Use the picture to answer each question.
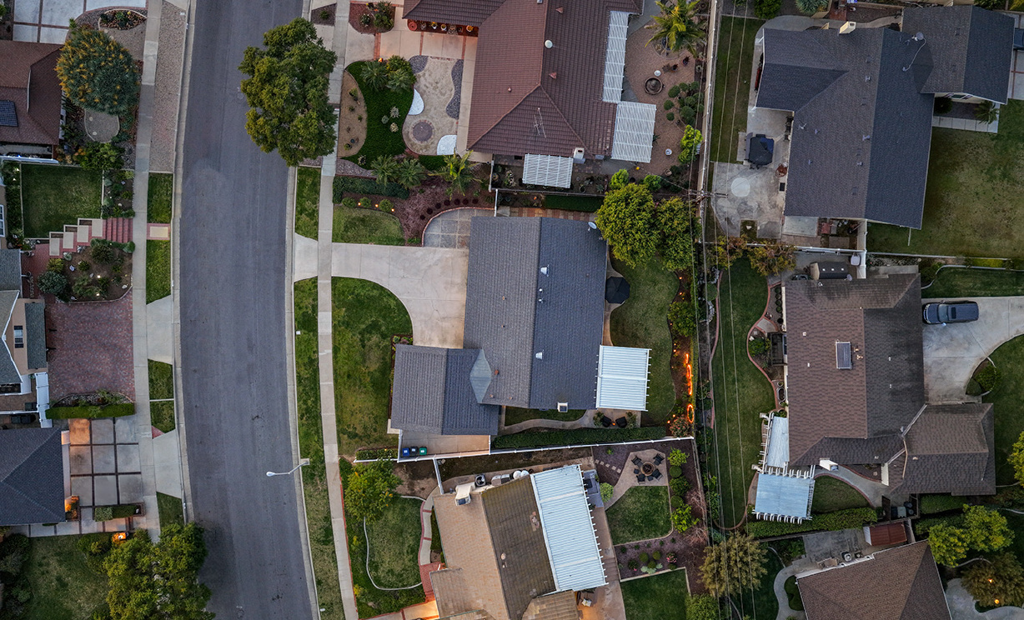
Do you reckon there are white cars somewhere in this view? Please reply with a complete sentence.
No, the picture doesn't show any white car.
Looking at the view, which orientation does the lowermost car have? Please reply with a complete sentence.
In this picture, the lowermost car lies from left to right.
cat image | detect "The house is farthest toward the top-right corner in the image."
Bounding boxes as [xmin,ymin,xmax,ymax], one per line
[755,4,1015,230]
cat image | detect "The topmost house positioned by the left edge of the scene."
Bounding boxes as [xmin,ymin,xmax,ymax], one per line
[0,40,68,145]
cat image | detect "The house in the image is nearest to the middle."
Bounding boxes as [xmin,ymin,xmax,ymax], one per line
[391,216,606,435]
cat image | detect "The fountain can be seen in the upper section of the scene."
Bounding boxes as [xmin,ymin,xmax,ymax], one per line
[645,75,664,94]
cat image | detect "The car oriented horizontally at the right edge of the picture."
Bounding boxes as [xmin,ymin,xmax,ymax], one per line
[923,299,979,325]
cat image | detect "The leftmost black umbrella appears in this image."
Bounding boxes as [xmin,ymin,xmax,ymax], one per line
[604,278,629,303]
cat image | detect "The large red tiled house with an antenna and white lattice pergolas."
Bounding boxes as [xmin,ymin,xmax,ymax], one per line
[402,0,643,166]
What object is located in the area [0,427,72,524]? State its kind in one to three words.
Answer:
house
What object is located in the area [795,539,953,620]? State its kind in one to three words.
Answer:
house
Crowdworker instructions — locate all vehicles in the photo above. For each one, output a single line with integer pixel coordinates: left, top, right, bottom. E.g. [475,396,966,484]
[923,299,979,325]
[1012,28,1024,52]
